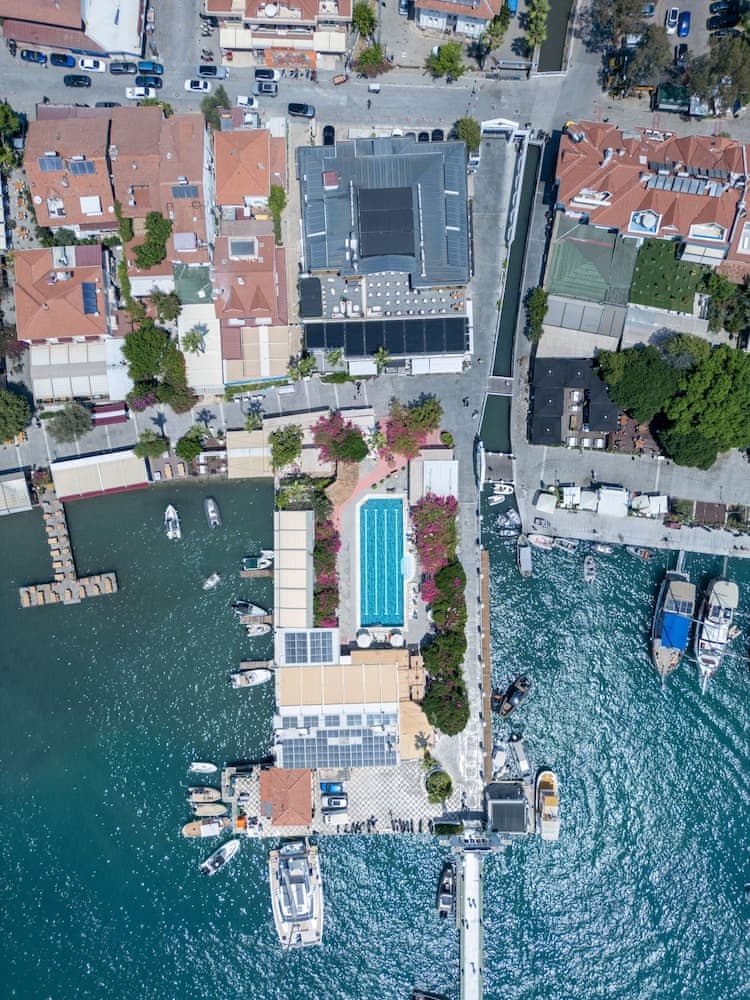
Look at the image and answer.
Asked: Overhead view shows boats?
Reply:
Yes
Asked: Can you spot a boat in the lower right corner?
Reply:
Yes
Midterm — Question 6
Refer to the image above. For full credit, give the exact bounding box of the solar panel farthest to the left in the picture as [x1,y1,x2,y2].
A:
[40,157,63,172]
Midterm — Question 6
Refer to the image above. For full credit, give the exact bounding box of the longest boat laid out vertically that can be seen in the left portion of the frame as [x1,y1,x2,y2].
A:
[269,825,323,962]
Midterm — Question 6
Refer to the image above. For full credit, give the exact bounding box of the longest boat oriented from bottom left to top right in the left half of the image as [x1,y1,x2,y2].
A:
[197,840,239,876]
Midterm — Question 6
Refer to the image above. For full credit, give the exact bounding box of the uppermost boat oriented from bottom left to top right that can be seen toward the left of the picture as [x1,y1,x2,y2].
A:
[203,571,222,587]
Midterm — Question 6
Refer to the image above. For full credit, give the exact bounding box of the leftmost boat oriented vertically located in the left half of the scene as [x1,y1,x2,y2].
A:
[165,505,181,543]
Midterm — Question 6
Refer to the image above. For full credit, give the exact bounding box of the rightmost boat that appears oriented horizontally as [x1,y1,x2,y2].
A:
[626,546,657,560]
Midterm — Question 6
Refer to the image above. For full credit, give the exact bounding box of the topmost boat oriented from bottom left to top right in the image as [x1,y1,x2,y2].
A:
[492,513,511,529]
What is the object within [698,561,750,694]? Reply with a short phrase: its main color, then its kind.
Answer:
white boat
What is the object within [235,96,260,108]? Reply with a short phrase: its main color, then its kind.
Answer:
white vehicle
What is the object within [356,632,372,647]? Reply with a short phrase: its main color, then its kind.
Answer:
white umbrella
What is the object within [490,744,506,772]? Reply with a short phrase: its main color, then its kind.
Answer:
white boat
